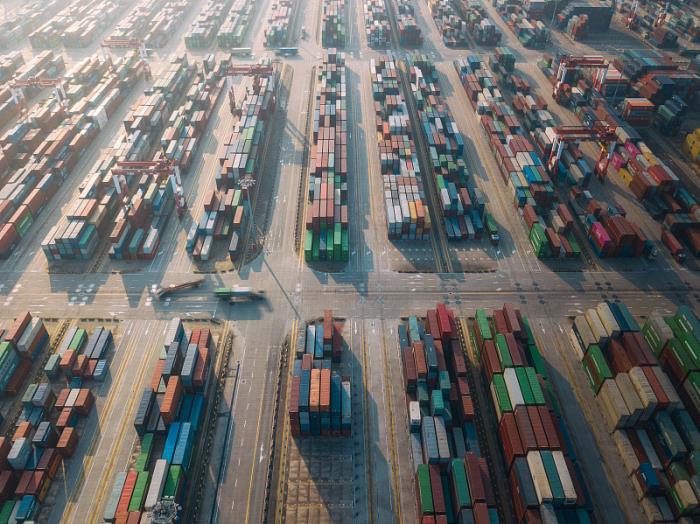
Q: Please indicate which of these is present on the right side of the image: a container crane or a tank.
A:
container crane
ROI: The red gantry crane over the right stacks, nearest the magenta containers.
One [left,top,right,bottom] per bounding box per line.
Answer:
[547,127,621,182]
